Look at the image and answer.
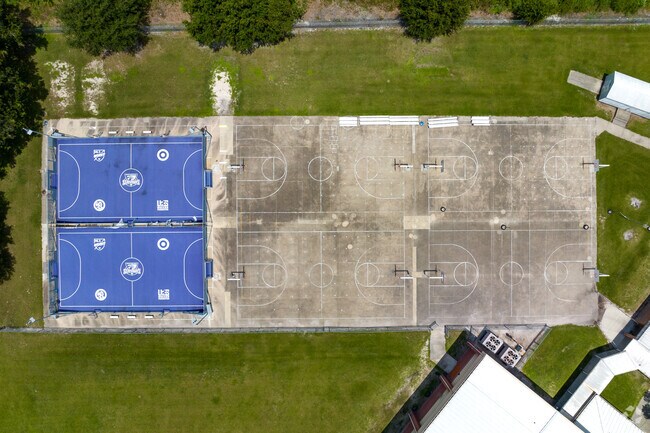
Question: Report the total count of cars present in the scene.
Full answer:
The picture shows no cars.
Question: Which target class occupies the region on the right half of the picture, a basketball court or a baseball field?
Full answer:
The feature located on the right half of the picture is a basketball court.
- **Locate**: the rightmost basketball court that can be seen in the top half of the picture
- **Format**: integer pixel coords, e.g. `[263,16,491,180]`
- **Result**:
[428,124,592,211]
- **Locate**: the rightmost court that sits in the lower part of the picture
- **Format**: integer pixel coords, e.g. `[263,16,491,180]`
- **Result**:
[429,230,592,317]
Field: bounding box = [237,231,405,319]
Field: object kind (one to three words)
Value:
basketball court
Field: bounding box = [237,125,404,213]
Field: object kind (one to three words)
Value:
basketball court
